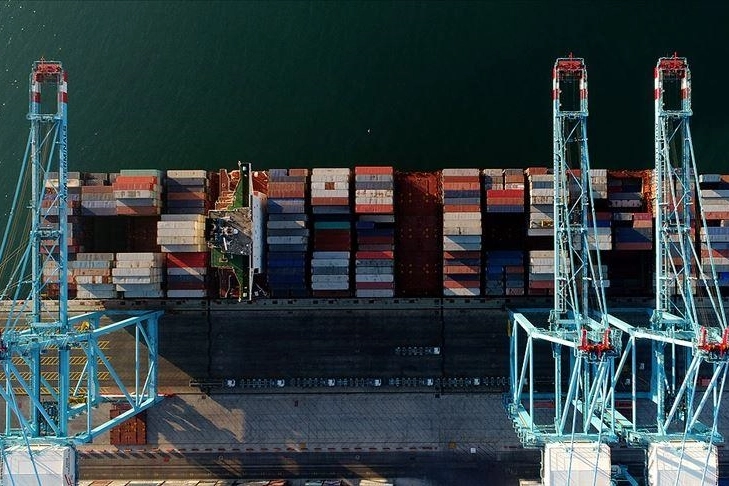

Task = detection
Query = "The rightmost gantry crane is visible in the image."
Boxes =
[579,51,729,486]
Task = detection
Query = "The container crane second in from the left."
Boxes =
[497,52,620,486]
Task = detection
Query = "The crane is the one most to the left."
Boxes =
[0,55,177,486]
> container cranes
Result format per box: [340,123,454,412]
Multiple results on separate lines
[0,55,177,486]
[497,52,620,486]
[579,51,729,486]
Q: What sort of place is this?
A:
port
